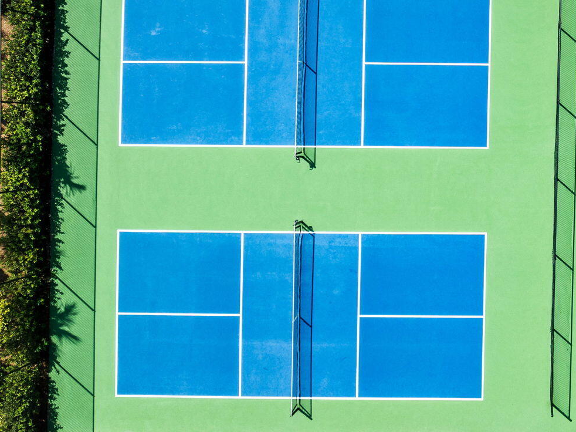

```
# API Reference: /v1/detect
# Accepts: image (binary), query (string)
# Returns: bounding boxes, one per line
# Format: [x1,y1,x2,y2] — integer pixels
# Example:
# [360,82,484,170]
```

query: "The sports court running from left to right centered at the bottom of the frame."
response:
[115,230,484,400]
